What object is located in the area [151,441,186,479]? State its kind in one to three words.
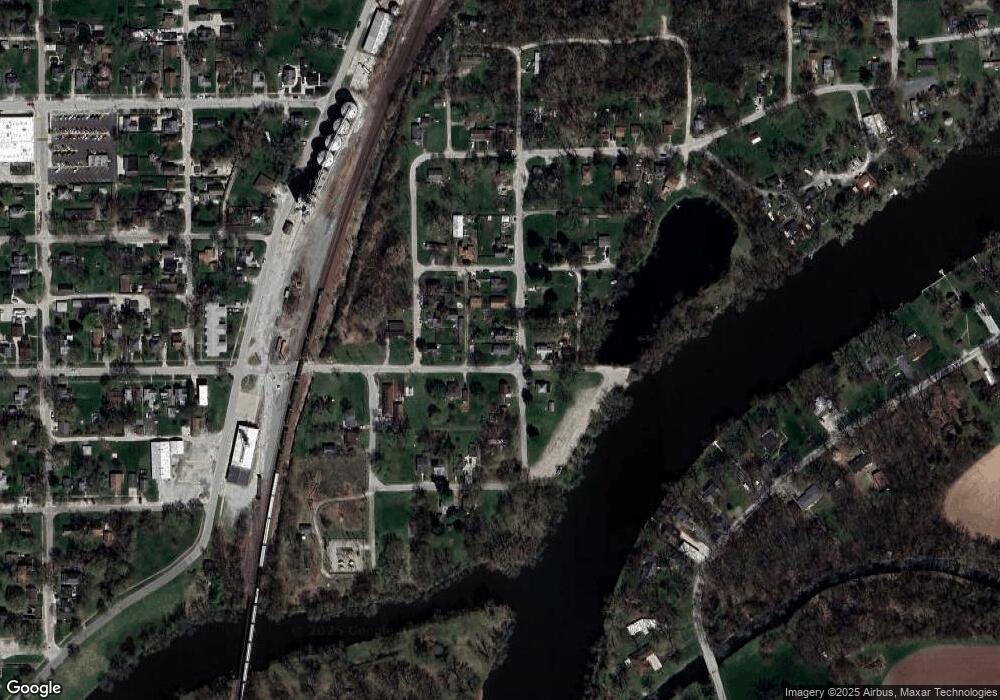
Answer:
building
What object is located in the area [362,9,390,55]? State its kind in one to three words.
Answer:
building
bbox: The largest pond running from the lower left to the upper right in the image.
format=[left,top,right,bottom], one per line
[600,197,737,363]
